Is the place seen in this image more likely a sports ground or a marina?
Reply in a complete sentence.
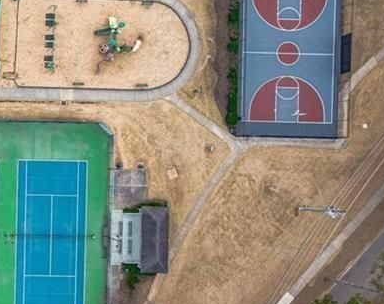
The area seen from above is a sports ground.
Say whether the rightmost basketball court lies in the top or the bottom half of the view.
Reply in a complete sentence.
The rightmost basketball court is in the top half of the image.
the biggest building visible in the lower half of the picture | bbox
[118,206,169,273]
